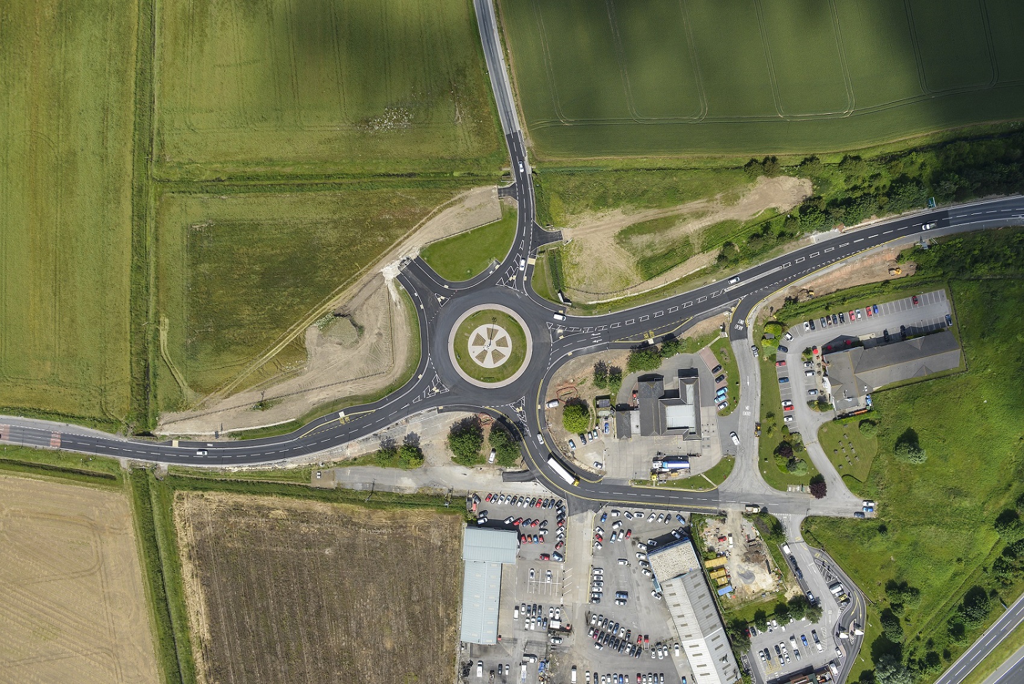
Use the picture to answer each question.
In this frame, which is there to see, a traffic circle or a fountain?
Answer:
traffic circle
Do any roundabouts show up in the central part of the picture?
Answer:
Yes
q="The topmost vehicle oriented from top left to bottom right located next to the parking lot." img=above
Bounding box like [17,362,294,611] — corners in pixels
[546,456,580,487]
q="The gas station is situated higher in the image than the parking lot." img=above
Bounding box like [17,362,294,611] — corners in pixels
[616,377,702,441]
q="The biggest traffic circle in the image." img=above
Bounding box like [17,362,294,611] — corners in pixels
[432,289,549,403]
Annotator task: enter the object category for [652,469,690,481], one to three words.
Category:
vehicle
